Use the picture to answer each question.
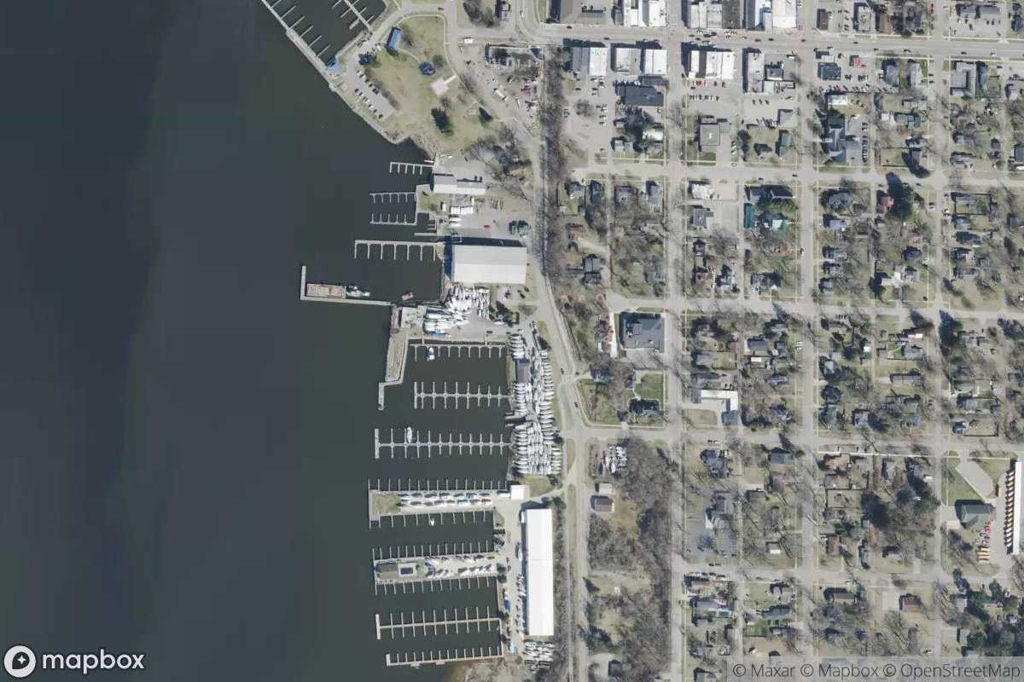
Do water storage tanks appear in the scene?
No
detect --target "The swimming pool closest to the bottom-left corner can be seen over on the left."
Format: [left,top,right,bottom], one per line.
[398,564,417,578]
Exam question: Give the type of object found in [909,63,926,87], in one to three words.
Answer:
house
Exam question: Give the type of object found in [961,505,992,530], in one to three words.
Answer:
building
